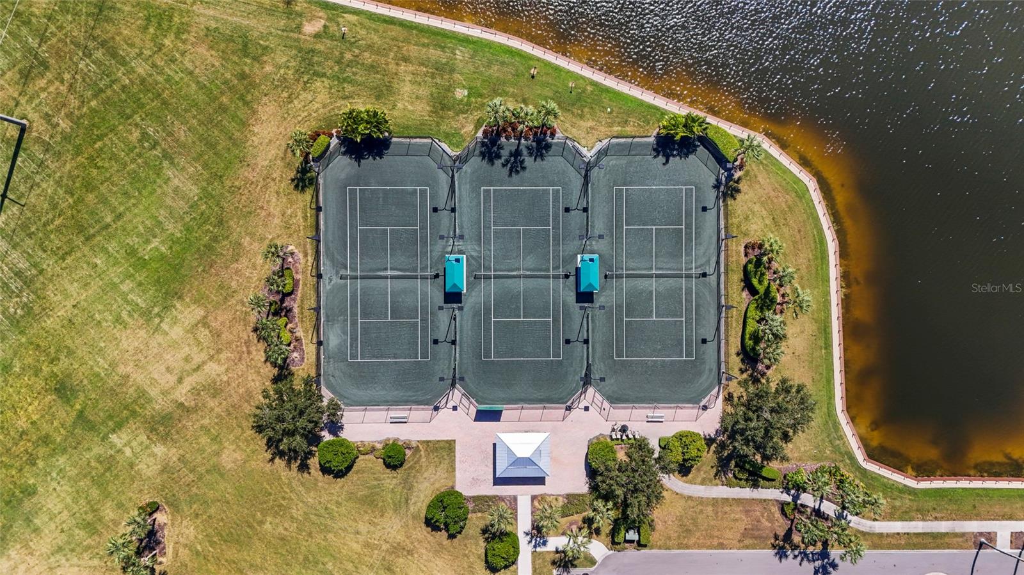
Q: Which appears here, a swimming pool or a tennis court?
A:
tennis court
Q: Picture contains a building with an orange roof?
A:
No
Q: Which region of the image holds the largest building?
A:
bottom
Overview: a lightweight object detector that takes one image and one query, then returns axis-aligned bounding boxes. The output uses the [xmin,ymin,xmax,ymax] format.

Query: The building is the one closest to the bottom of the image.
[496,432,550,477]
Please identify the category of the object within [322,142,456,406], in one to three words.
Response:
tennis court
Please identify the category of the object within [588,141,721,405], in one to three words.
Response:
tennis court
